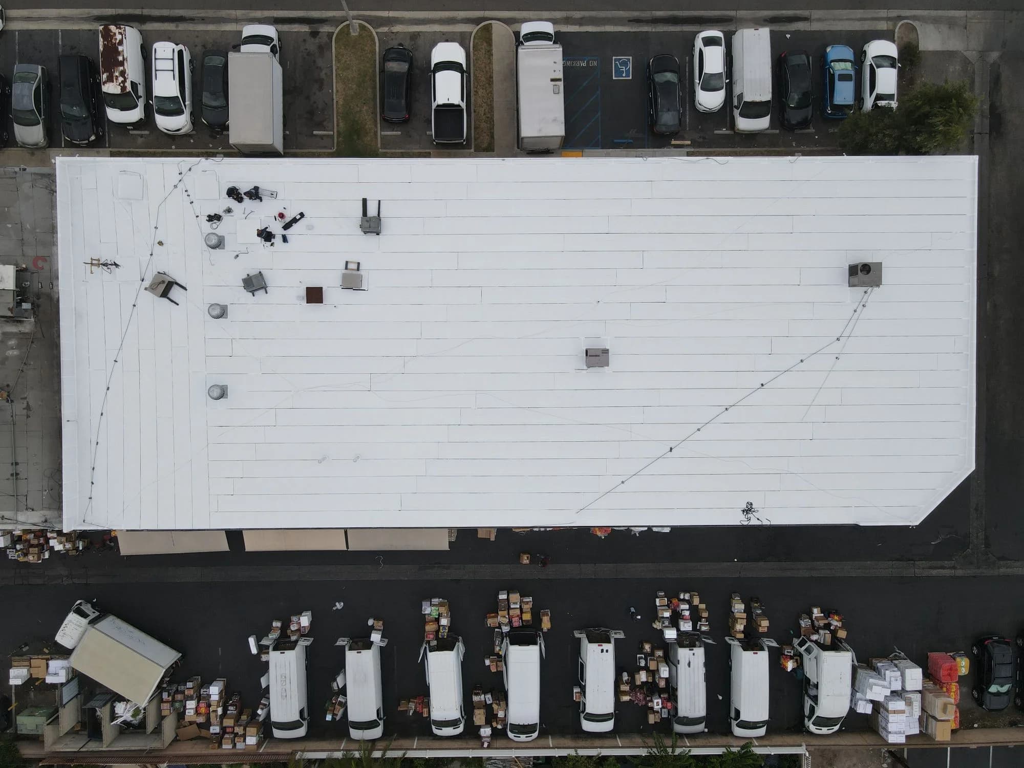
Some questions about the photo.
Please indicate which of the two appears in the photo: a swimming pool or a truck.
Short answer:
truck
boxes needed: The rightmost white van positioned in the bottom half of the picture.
[792,635,856,734]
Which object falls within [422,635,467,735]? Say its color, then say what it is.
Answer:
white van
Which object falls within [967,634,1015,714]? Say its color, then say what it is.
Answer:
black car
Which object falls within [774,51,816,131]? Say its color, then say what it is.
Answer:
black car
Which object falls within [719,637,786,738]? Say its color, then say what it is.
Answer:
white van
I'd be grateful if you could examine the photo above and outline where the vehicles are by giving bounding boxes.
[56,57,106,148]
[500,631,544,742]
[792,635,856,734]
[818,45,862,120]
[729,27,775,137]
[569,630,629,732]
[228,29,287,157]
[151,42,198,136]
[967,634,1015,714]
[10,64,57,149]
[428,43,469,148]
[658,634,723,734]
[100,24,151,131]
[513,24,565,157]
[774,51,816,131]
[49,597,189,710]
[691,30,730,114]
[856,39,899,115]
[196,50,228,129]
[719,637,786,738]
[332,637,396,740]
[422,635,467,735]
[0,67,18,153]
[253,631,319,741]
